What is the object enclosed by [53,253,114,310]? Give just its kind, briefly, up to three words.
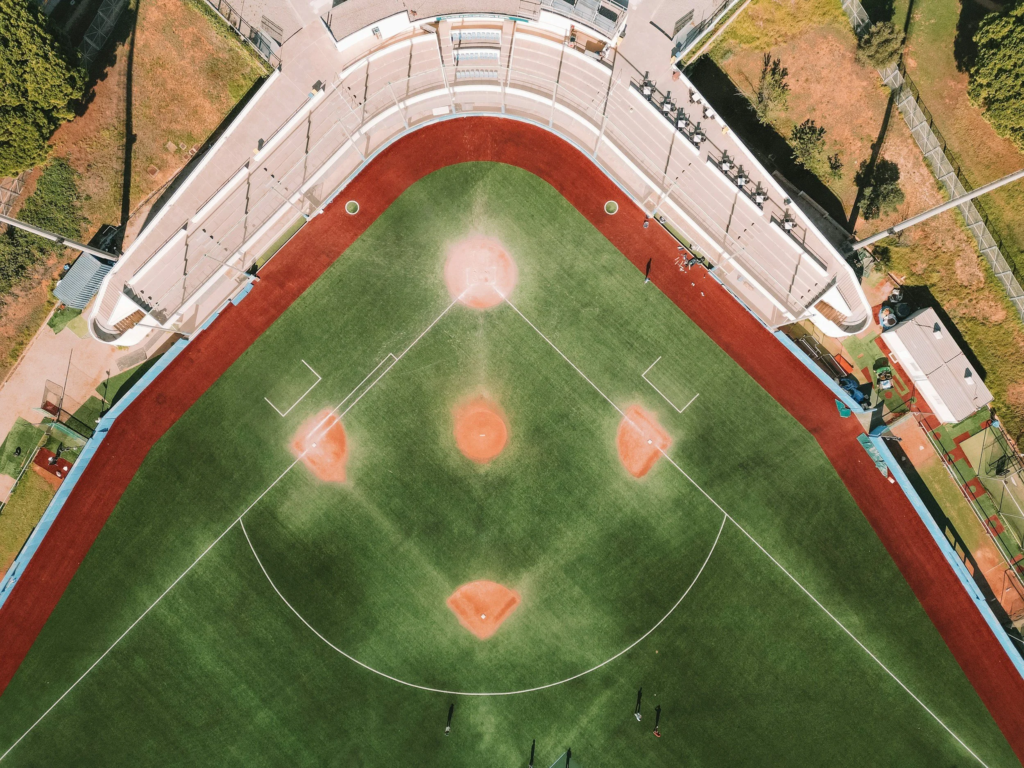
shed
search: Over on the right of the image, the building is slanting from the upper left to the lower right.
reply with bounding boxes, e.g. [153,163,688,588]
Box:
[883,307,994,423]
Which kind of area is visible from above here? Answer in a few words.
sports ground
